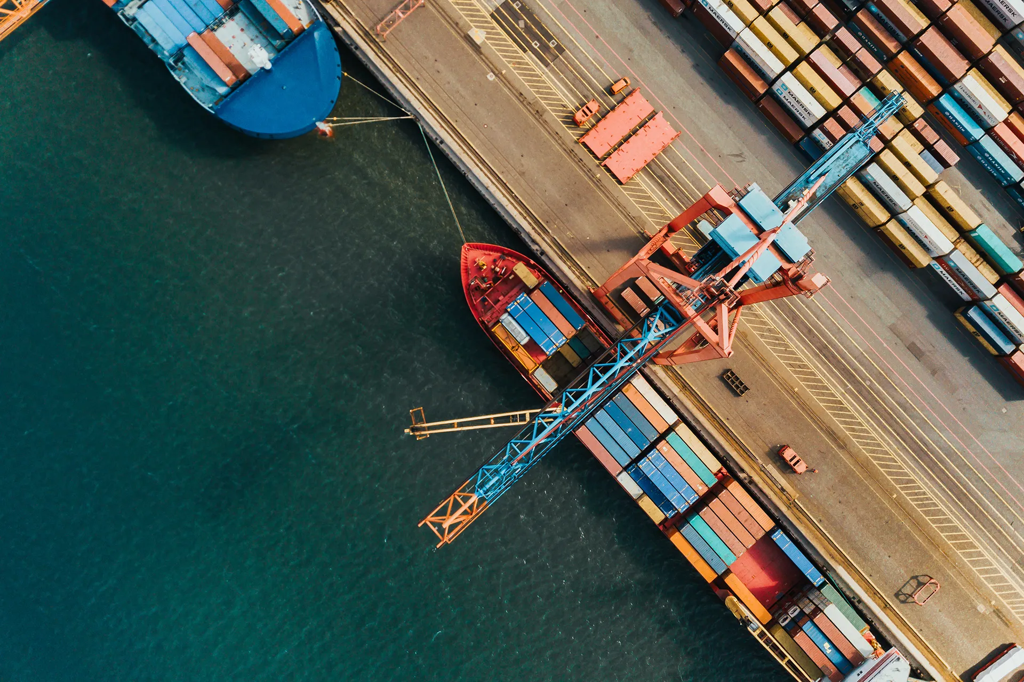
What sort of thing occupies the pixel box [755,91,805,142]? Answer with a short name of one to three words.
shipping container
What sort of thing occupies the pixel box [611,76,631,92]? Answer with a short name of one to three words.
vehicle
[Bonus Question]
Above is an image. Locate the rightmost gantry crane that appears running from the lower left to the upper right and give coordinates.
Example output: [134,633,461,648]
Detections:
[418,91,918,551]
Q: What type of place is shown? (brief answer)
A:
port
